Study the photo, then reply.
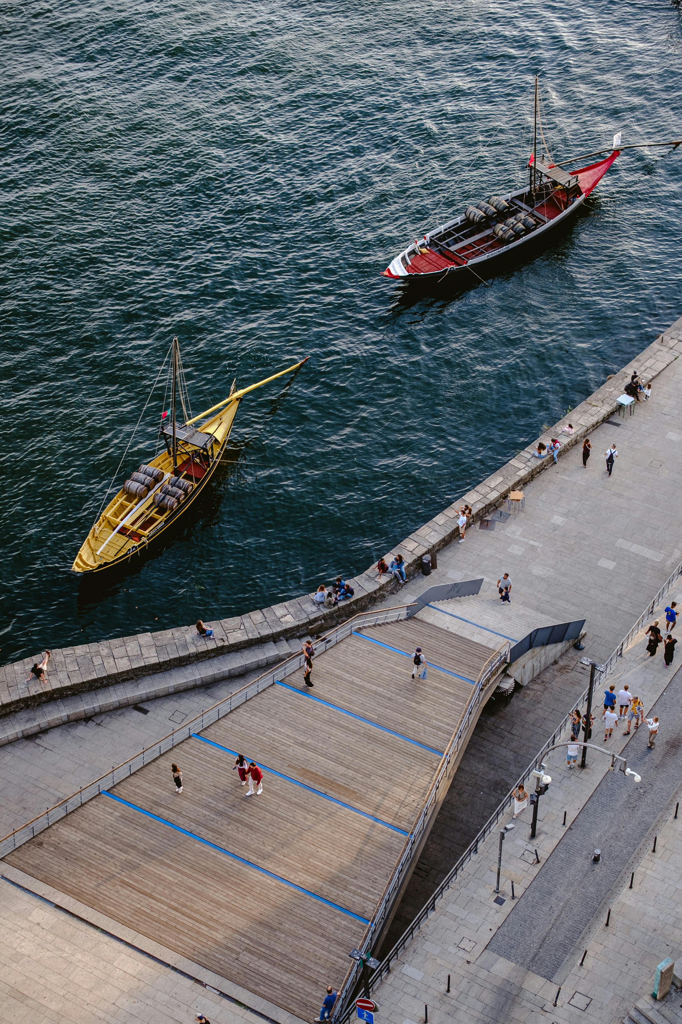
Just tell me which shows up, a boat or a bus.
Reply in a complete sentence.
The one in the frame is a boat.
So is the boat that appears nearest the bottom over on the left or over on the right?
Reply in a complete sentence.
You can find the boat that appears nearest the bottom on the left side of the picture.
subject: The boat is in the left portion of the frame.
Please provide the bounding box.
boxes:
[67,335,313,579]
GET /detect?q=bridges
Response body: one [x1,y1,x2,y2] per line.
[0,614,504,1024]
